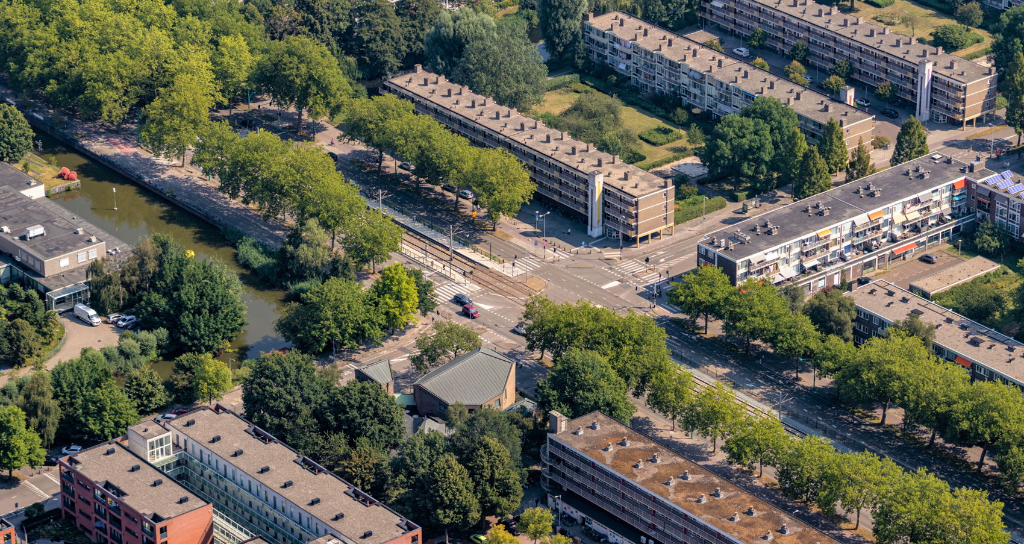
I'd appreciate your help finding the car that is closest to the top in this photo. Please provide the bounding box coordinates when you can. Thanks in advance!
[732,46,748,58]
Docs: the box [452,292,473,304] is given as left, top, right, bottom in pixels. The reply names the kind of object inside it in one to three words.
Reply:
vehicle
